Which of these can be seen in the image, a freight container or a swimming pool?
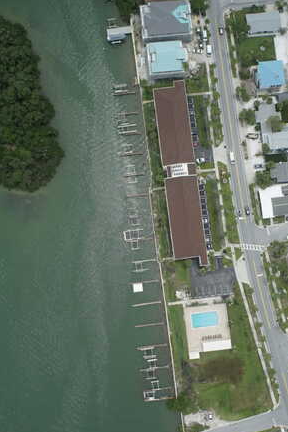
swimming pool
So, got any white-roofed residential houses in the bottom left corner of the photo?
No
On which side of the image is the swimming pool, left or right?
right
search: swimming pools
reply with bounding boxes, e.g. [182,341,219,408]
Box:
[185,302,230,360]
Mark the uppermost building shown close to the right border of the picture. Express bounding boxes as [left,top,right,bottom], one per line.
[246,11,281,36]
